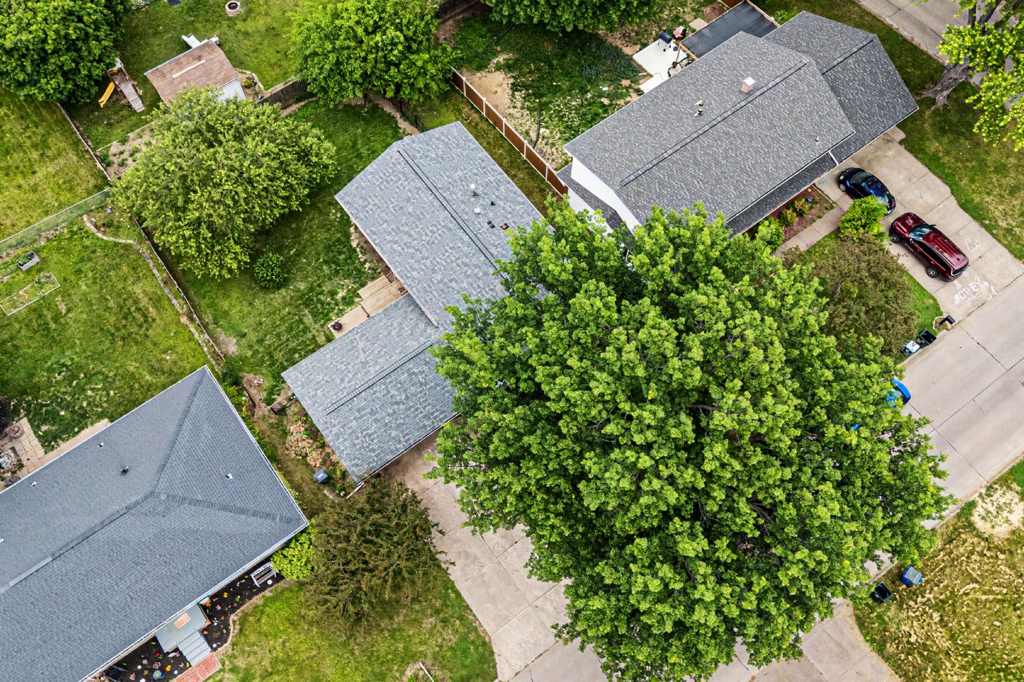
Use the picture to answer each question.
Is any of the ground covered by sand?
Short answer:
No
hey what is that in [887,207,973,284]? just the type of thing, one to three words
car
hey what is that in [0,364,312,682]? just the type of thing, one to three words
house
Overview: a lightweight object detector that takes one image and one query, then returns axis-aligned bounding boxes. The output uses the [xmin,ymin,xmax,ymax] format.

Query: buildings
[552,7,921,248]
[146,39,249,128]
[282,120,590,486]
[0,364,312,682]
